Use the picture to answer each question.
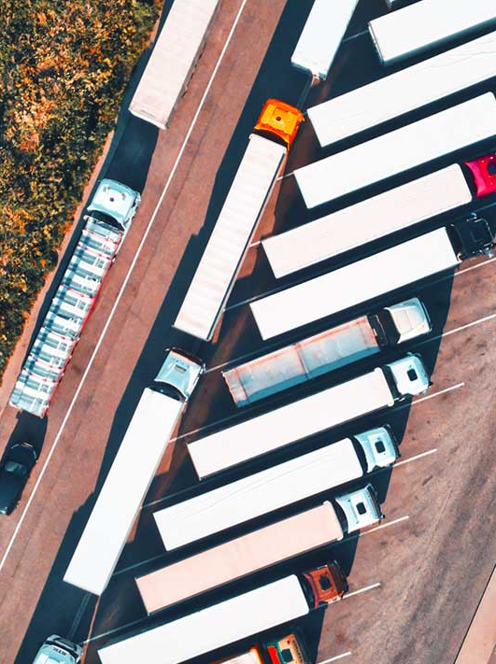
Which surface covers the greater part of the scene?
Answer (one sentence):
The bulk of the photo consists of paved ground.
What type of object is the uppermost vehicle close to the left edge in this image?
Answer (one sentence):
Specifically, the uppermost vehicle close to the left edge is a truck.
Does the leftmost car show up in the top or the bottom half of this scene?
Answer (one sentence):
It is in the bottom half that the leftmost car appears.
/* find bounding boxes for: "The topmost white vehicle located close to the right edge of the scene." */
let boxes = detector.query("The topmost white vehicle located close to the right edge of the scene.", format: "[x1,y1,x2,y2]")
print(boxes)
[368,0,496,69]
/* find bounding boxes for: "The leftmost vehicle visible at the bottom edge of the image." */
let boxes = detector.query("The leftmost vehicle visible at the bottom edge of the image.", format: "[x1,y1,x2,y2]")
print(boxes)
[40,631,92,664]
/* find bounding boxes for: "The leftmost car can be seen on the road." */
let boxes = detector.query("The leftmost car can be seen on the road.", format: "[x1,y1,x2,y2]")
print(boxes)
[0,441,36,515]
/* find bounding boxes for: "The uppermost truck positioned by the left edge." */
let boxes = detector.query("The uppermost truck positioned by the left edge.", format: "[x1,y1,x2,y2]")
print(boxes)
[9,180,145,419]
